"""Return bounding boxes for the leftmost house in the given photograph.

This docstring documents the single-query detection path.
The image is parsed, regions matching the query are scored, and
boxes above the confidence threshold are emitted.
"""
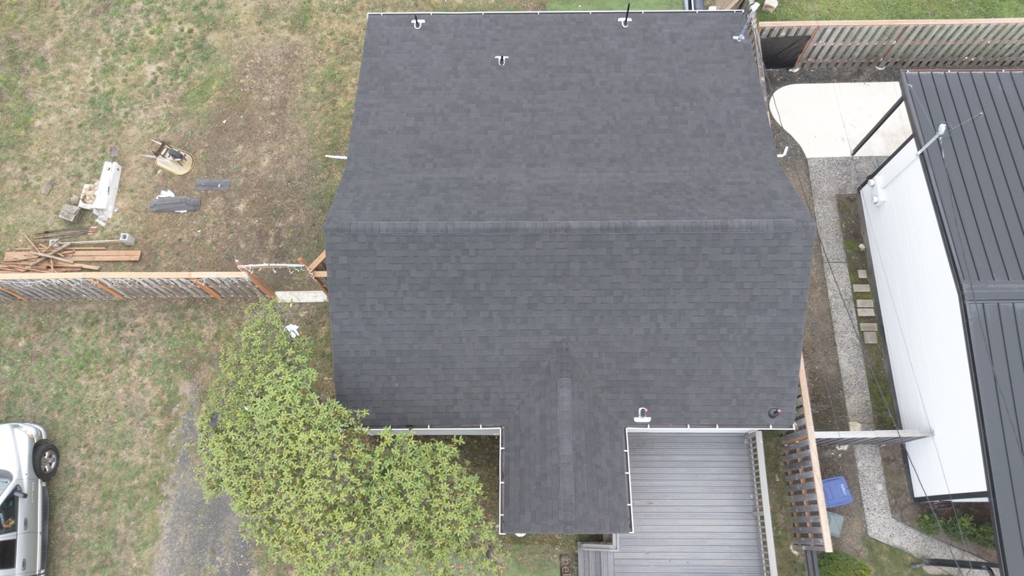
[324,0,816,534]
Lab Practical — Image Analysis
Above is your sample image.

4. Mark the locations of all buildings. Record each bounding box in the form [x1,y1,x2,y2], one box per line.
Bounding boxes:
[850,66,1024,576]
[324,0,816,534]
